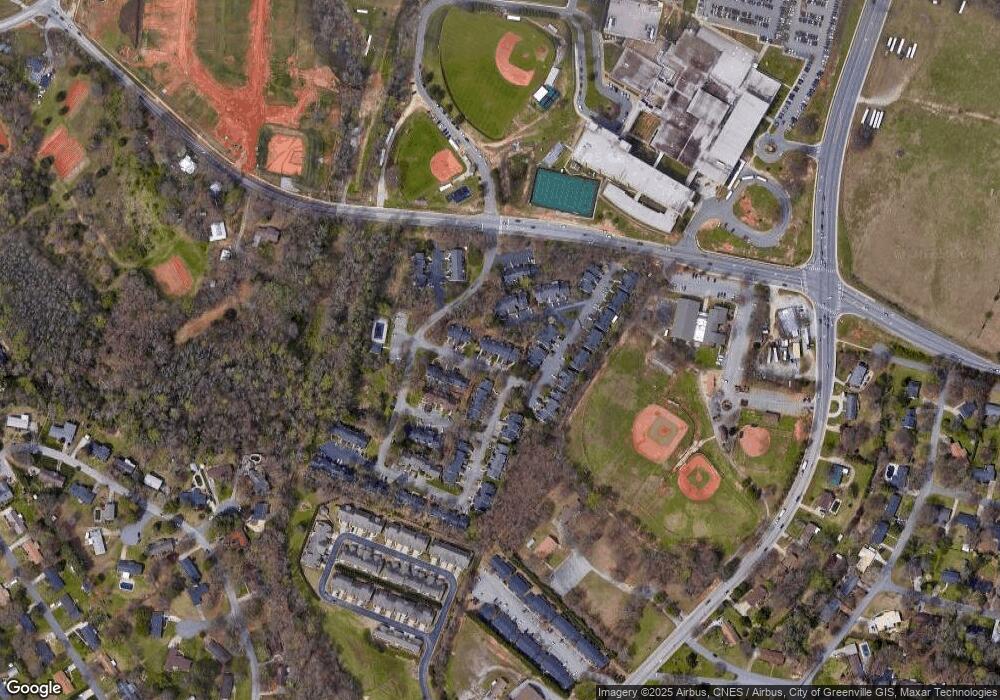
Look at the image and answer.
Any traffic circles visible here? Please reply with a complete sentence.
Yes, looking at the shot, I can spot a traffic circle.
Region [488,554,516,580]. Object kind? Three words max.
building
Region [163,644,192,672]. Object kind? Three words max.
house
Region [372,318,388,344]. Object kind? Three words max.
swimming pool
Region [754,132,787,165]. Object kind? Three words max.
roundabout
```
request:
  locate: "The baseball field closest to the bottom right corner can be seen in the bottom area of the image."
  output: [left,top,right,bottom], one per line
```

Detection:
[678,454,721,501]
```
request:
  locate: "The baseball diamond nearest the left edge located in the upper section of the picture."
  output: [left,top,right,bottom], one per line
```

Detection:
[390,103,468,201]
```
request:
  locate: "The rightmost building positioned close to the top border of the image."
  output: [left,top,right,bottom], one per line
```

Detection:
[573,26,781,233]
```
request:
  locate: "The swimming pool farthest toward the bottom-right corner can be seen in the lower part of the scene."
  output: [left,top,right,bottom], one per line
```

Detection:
[858,640,872,660]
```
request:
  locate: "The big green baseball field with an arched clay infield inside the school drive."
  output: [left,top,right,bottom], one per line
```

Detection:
[438,7,558,138]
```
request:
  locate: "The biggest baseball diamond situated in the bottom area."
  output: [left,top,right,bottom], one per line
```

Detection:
[633,404,688,463]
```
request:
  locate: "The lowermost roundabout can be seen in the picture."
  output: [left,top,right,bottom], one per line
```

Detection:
[728,175,792,248]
